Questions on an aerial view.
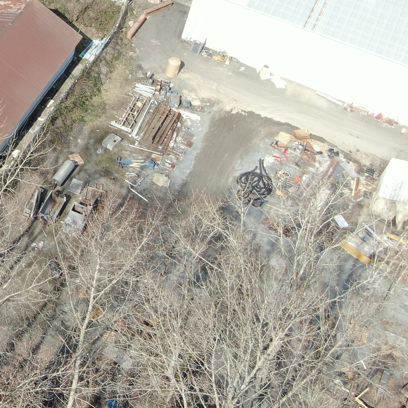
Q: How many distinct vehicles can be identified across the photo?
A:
0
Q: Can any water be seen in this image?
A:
No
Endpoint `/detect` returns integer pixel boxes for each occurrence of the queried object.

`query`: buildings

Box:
[367,156,408,233]
[180,0,408,128]
[0,0,85,157]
